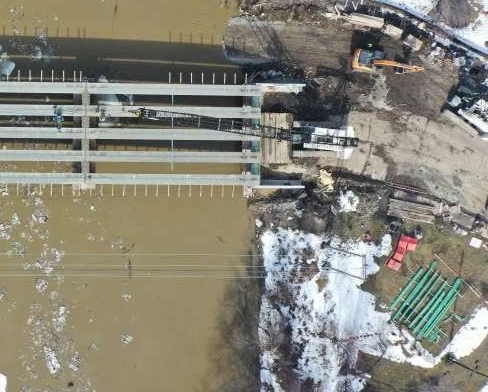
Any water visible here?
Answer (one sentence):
Yes, the picture does contain water.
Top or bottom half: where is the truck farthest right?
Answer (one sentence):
You can find the truck farthest right in the top half.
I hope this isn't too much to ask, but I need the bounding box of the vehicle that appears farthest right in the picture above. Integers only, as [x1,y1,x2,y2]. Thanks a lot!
[449,89,488,138]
